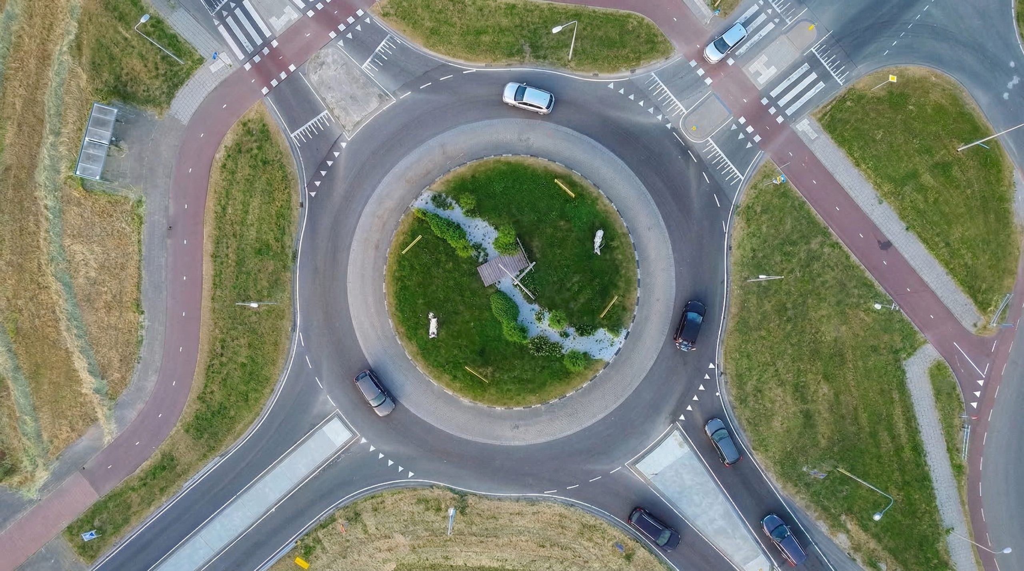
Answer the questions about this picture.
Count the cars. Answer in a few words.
7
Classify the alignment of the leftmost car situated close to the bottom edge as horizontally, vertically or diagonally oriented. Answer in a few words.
diagonally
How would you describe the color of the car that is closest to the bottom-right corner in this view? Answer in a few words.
blue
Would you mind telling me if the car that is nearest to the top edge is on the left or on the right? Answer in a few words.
right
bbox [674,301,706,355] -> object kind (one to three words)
car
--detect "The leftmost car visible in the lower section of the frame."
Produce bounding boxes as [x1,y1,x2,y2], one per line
[353,368,396,416]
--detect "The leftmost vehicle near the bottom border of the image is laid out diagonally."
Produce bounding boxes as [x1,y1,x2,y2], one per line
[627,505,680,552]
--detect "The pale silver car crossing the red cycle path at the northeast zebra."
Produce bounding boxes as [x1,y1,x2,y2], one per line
[702,20,751,66]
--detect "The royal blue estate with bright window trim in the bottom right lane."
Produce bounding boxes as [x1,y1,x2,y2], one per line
[761,513,809,568]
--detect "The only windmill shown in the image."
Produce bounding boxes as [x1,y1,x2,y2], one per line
[497,261,536,301]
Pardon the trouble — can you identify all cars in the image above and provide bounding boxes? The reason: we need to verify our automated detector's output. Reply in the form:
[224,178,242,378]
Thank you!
[761,513,809,568]
[703,417,744,468]
[353,368,396,416]
[702,20,751,66]
[503,82,555,116]
[674,301,706,355]
[627,505,680,552]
